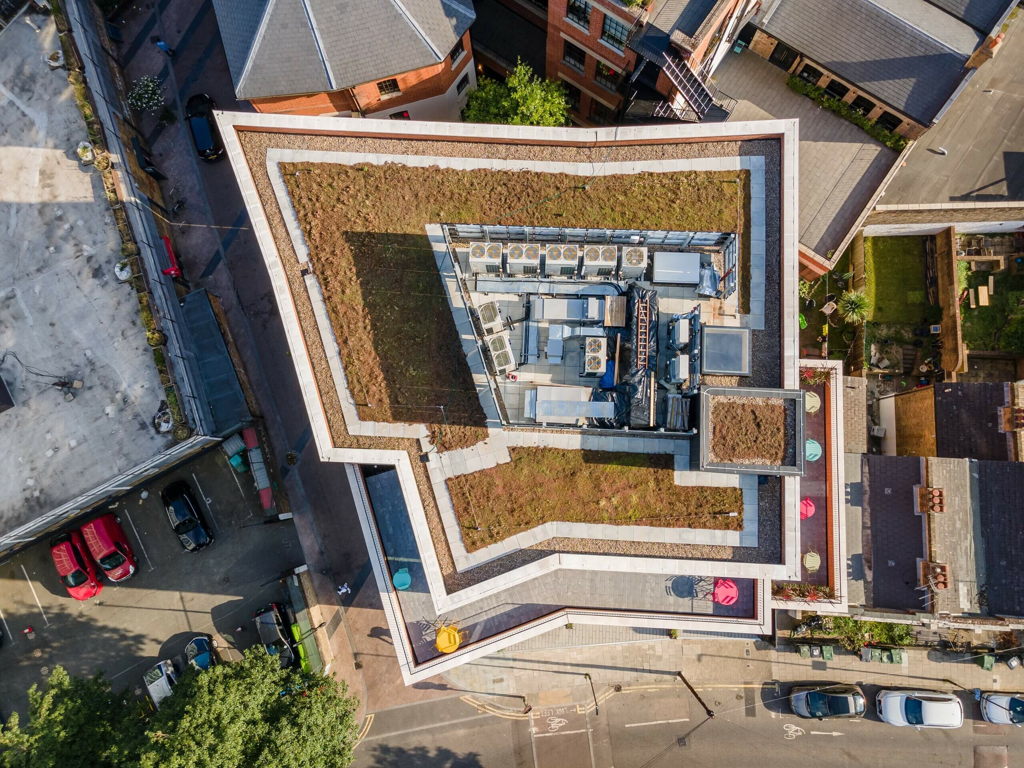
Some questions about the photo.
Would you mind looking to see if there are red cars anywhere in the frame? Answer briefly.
Yes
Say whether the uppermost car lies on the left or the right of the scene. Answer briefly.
left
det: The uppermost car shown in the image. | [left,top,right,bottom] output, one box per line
[186,93,229,163]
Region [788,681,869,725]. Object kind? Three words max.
car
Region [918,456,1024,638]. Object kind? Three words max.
house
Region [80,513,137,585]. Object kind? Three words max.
car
